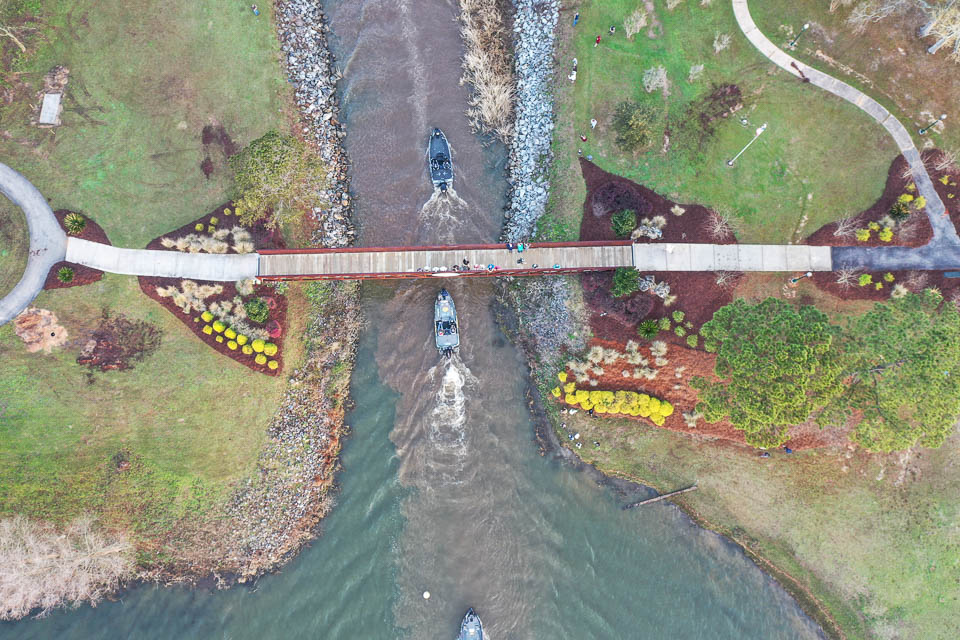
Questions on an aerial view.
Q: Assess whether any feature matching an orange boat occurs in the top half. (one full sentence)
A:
No, no orange boat appears in the top half.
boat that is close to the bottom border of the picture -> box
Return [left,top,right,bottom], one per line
[460,607,487,640]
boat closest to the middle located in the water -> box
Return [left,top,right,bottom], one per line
[434,290,460,358]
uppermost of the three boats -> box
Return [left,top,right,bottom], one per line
[429,127,452,190]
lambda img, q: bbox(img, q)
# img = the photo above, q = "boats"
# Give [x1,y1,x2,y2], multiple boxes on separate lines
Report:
[429,127,452,190]
[460,607,487,640]
[434,290,460,358]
